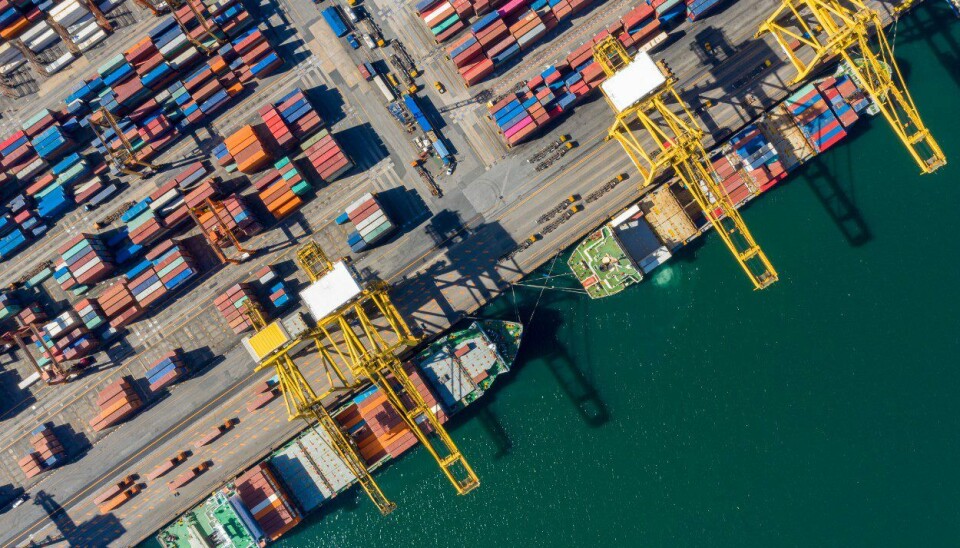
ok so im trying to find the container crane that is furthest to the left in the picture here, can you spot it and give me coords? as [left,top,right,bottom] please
[9,321,90,384]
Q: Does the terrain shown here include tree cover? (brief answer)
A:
No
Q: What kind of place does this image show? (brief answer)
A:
port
